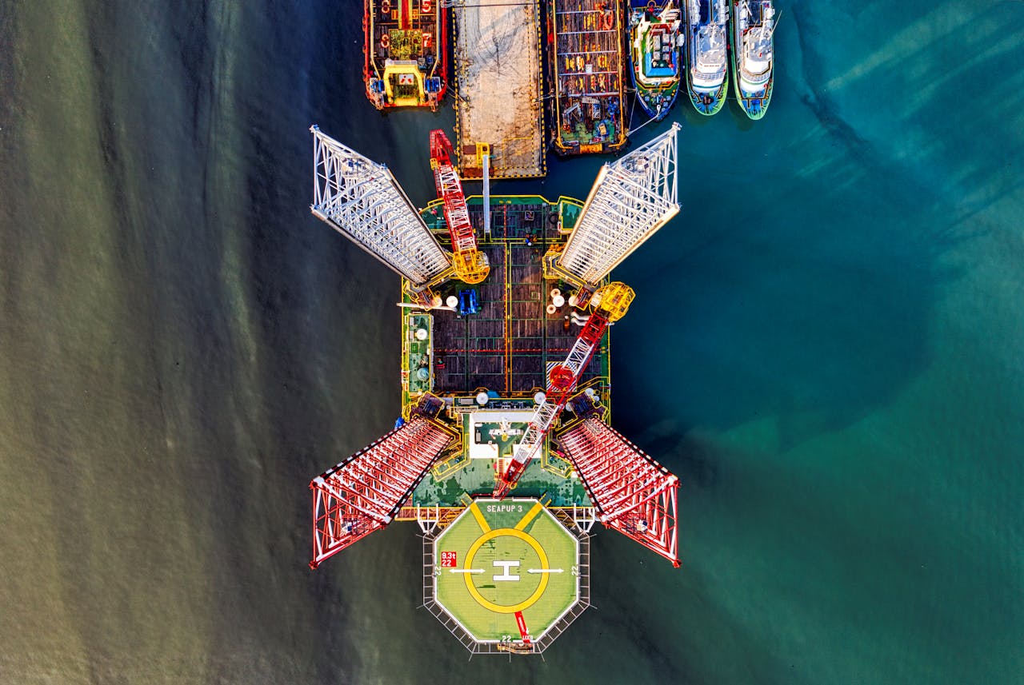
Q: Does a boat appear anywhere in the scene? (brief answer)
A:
Yes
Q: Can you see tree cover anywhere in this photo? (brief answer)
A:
No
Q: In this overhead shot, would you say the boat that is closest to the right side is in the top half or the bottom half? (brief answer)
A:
top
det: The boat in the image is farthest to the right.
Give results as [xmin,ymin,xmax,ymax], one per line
[728,0,775,123]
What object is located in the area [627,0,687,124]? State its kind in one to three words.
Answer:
boat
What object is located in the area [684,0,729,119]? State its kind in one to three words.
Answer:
boat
